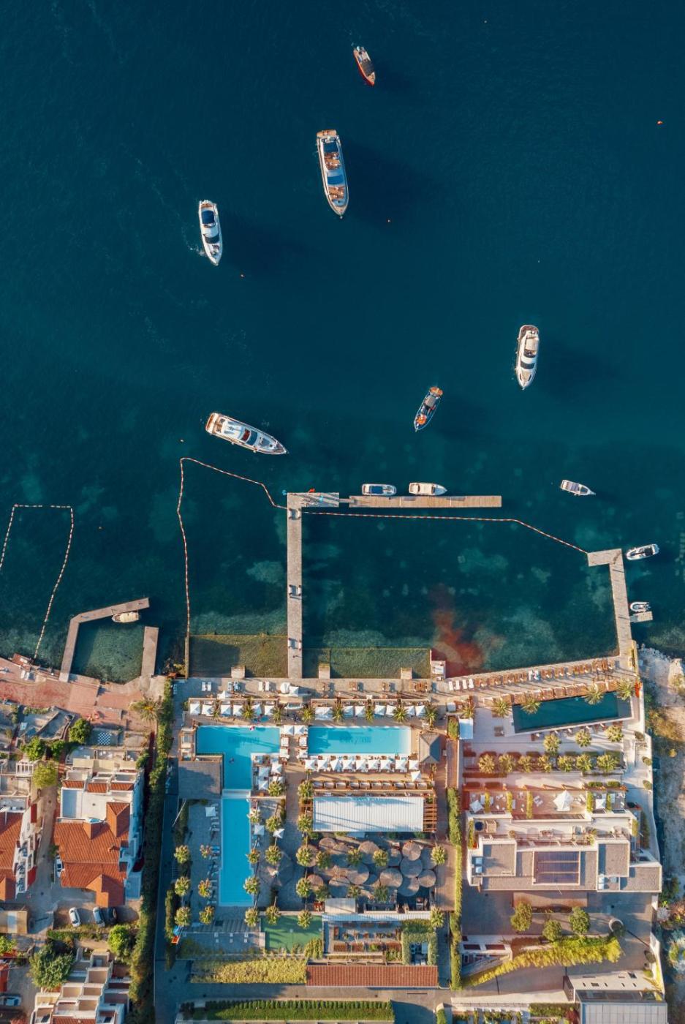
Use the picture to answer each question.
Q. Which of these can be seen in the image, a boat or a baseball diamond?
boat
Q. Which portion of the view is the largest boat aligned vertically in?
top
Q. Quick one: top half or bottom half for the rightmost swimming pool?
bottom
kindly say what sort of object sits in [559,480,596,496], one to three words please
boat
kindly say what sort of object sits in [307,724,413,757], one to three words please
swimming pool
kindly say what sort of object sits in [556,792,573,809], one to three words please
umbrella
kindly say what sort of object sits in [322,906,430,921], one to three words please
building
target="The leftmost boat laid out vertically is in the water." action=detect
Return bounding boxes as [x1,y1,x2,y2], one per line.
[199,203,222,266]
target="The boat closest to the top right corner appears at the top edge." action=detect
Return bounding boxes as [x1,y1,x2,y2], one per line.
[355,45,375,88]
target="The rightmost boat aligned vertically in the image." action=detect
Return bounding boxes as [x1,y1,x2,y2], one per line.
[514,326,538,389]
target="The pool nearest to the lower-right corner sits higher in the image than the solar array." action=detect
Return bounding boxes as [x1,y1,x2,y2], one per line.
[511,690,634,732]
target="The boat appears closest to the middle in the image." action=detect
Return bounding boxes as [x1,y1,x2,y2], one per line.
[362,483,397,495]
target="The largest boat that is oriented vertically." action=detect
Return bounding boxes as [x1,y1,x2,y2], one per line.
[315,133,349,218]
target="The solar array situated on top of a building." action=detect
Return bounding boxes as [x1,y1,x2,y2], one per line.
[532,850,581,884]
